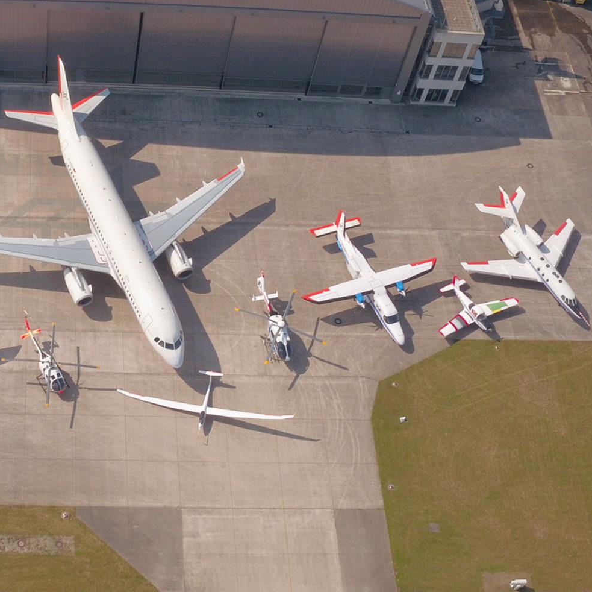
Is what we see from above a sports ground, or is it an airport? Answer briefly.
airport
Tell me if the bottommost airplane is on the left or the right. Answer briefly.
left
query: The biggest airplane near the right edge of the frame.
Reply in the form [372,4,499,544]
[456,186,589,331]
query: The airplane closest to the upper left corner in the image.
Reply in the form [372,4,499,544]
[0,54,246,369]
